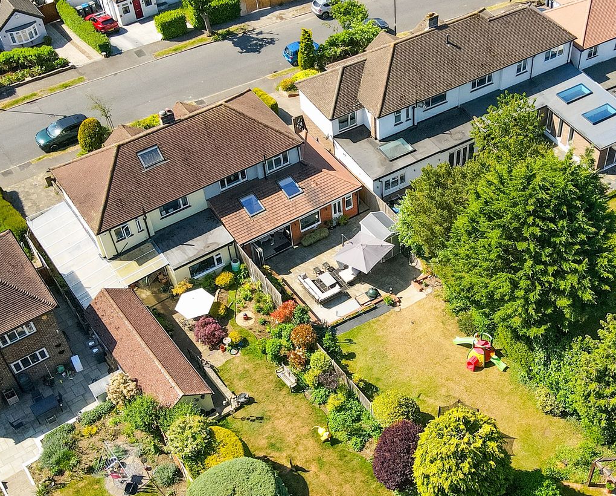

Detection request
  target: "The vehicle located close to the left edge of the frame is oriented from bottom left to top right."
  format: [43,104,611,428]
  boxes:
[31,107,90,151]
